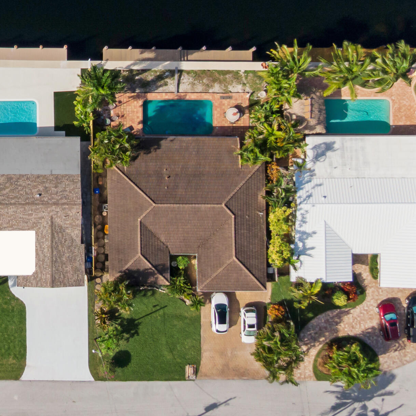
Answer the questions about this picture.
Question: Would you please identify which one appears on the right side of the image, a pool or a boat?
pool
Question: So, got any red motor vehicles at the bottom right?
Yes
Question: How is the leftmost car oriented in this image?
from top to bottom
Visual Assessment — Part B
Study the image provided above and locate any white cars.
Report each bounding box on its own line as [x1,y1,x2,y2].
[209,292,231,335]
[239,306,259,344]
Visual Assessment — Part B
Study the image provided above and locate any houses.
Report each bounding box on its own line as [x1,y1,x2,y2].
[0,136,85,288]
[107,137,268,292]
[286,135,416,289]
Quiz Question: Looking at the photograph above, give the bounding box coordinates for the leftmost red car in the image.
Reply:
[376,301,401,342]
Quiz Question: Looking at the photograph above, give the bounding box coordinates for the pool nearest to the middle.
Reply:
[140,98,215,136]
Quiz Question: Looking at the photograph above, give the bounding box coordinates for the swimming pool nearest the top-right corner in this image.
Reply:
[324,96,393,135]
